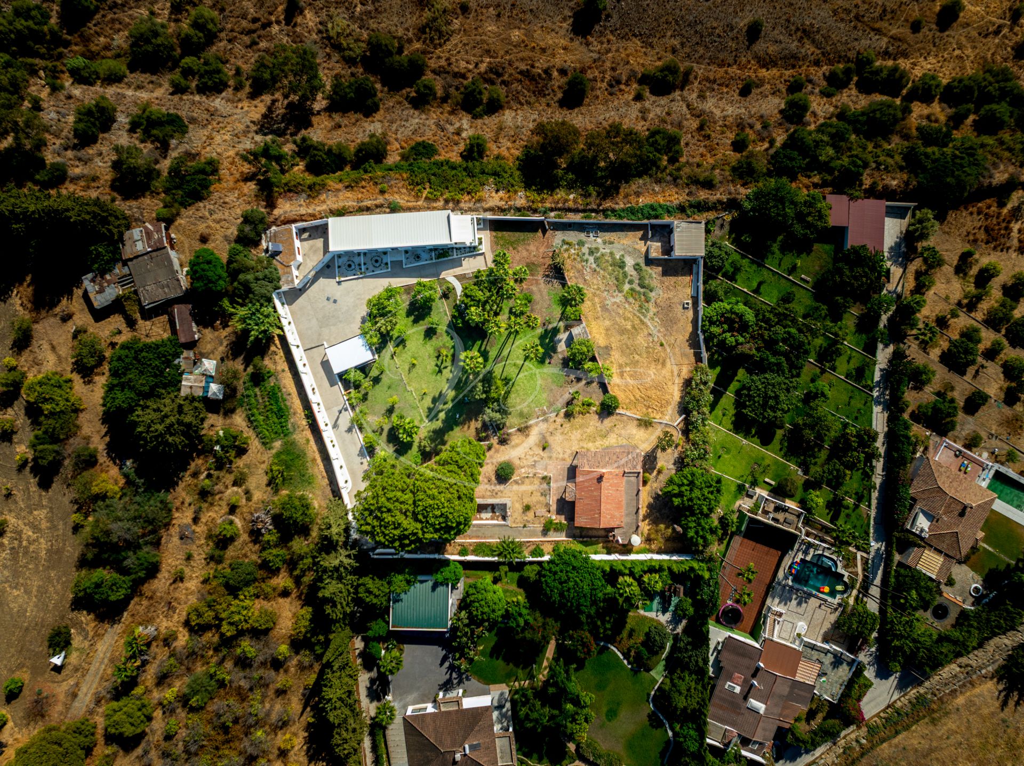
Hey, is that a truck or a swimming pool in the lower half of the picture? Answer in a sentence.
You can see a swimming pool in the lower half of the picture.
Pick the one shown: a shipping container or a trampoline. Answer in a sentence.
Looking from above, you can make out a trampoline.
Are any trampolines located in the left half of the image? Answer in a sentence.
No, looking in the left half of the image, there is no trampoline.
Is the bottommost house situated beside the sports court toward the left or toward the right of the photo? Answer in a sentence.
You can find the bottommost house situated beside the sports court on the right side of the picture.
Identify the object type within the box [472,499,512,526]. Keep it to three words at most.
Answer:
swimming pool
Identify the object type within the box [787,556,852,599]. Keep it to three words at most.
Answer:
swimming pool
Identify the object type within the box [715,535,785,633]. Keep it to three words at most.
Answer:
sports court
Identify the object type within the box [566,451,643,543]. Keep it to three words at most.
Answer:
house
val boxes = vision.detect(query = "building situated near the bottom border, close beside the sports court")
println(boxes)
[703,632,822,759]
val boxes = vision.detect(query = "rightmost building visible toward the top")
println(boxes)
[826,195,885,256]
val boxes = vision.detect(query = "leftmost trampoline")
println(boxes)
[718,602,743,627]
